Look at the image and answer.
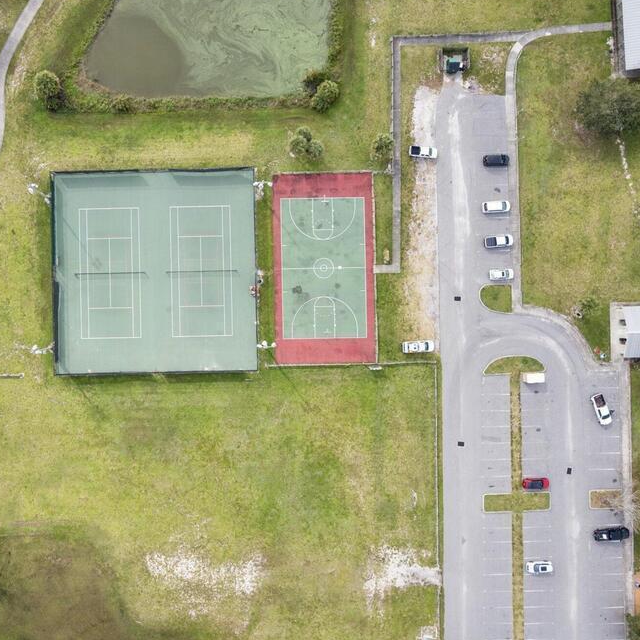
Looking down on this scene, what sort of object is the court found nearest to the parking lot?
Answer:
basketball court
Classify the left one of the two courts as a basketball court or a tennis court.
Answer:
tennis court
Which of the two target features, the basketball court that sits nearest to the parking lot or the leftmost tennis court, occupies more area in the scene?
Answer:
the tennis court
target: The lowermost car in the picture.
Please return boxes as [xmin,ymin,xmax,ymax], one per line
[526,562,554,575]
